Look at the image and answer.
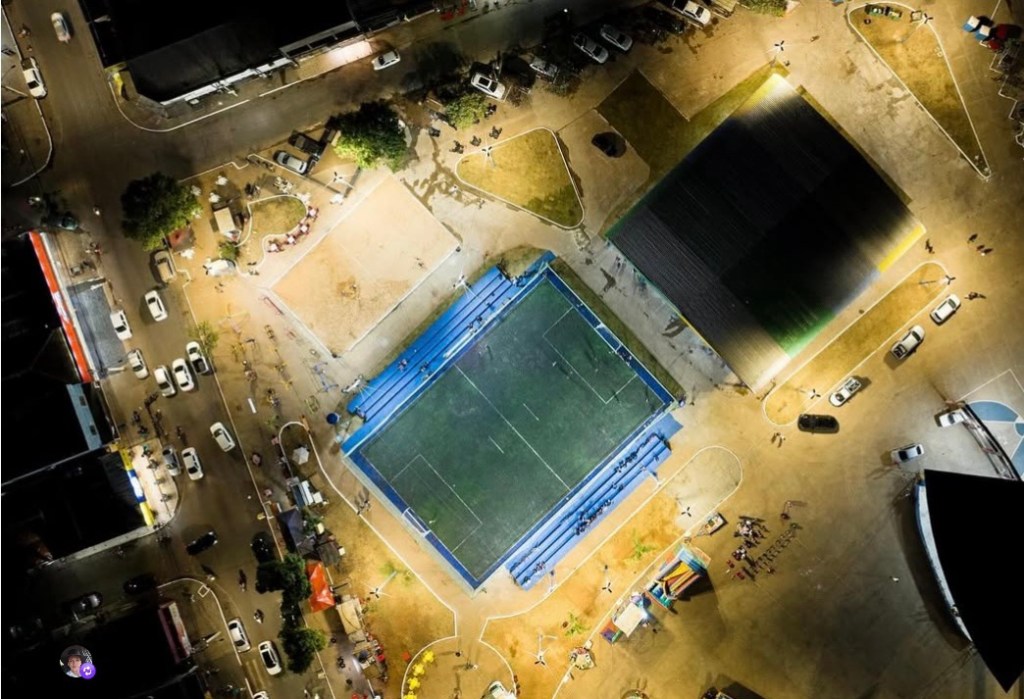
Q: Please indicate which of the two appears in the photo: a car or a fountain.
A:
car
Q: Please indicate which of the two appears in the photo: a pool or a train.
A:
train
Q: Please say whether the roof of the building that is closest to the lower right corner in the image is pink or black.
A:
black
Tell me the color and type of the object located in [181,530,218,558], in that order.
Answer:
black car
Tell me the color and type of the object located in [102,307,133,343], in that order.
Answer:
white car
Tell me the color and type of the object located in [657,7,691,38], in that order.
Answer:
black car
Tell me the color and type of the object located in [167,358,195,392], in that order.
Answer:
white car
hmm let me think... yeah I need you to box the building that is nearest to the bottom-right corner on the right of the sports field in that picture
[907,470,1024,692]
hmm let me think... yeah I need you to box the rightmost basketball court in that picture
[956,368,1024,485]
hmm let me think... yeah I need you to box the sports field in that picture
[340,262,679,596]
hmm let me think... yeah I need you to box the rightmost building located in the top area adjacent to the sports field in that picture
[604,73,925,394]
